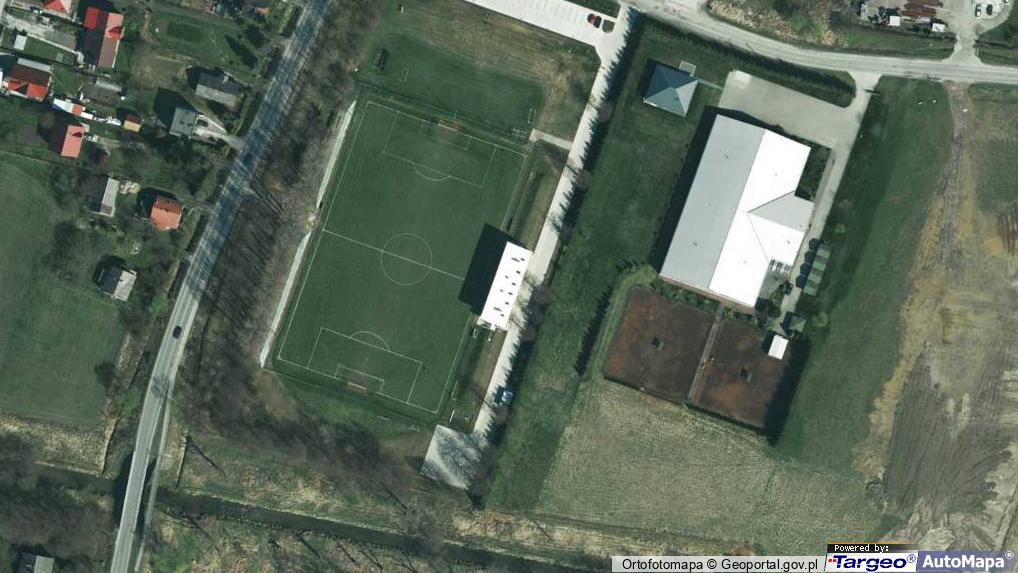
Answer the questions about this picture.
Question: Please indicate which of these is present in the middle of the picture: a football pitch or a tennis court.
football pitch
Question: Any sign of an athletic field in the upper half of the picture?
Yes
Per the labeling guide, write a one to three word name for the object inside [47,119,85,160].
house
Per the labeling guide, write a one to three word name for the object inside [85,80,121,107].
barn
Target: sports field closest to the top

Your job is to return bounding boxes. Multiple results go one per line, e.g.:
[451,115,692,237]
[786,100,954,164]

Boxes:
[383,37,544,128]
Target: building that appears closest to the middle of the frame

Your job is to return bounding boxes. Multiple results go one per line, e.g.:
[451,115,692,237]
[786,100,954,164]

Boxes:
[478,242,532,346]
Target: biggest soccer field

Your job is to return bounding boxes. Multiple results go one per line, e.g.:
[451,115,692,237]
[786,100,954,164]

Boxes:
[269,93,536,422]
